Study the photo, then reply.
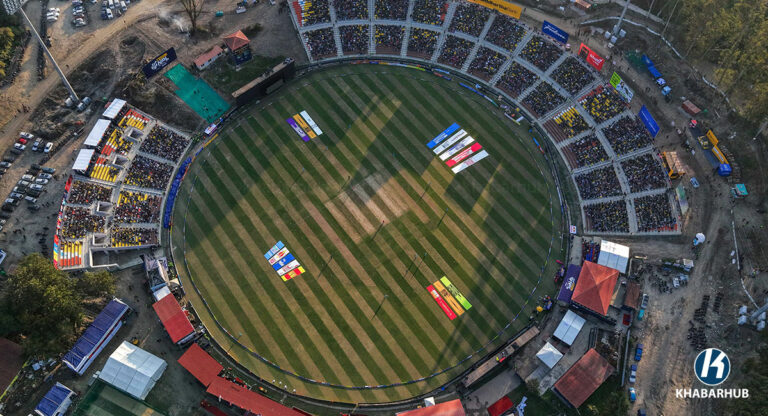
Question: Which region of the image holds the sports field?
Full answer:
Look in the center portion of the view to spot the sports field.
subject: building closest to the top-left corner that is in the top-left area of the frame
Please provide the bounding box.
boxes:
[194,45,224,71]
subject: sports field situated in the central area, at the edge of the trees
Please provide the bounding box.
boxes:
[171,61,570,403]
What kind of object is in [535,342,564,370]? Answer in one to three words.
gazebo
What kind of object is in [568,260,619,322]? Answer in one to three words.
building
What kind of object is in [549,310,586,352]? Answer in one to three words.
tent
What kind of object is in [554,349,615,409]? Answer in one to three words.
building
